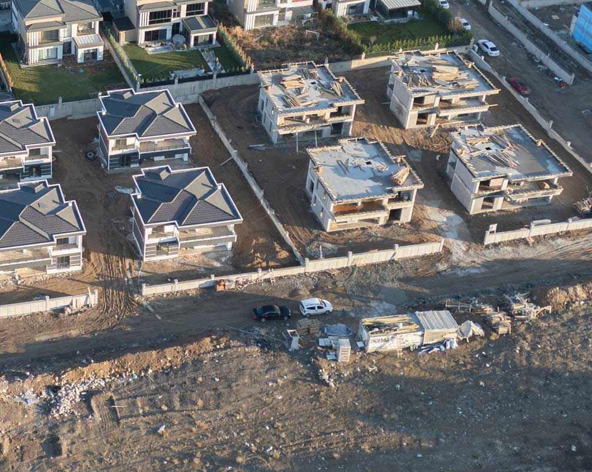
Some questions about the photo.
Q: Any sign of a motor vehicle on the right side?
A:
Yes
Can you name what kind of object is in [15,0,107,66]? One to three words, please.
house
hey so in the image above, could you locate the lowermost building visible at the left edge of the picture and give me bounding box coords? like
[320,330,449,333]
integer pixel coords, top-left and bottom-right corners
[0,177,83,276]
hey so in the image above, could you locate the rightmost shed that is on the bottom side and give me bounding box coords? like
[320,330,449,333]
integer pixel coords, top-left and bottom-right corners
[414,300,466,340]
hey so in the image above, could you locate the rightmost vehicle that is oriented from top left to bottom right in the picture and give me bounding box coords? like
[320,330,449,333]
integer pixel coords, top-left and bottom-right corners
[506,74,533,95]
